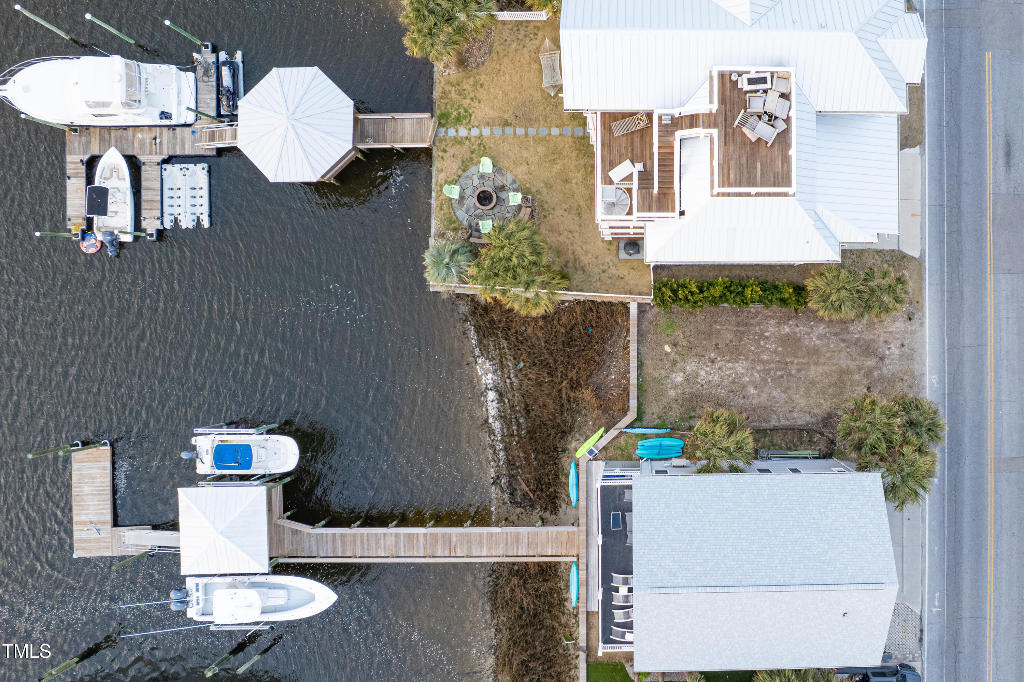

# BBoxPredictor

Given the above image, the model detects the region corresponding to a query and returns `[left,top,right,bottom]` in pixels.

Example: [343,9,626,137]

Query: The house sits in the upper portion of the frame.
[557,0,928,269]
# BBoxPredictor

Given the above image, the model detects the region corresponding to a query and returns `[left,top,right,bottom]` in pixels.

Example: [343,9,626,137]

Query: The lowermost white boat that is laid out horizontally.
[120,574,341,637]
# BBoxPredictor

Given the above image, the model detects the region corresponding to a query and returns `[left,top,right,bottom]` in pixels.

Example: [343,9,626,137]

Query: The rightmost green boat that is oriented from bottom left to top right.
[577,429,604,458]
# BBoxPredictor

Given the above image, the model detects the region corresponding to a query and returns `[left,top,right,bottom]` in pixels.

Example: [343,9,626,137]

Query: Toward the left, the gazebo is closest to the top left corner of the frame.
[237,65,380,196]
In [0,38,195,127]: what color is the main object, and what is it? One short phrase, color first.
white boat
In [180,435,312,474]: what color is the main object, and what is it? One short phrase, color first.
white boat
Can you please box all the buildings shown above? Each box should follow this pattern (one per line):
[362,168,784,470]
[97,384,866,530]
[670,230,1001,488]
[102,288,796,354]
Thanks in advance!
[598,458,899,672]
[177,474,299,576]
[557,0,928,269]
